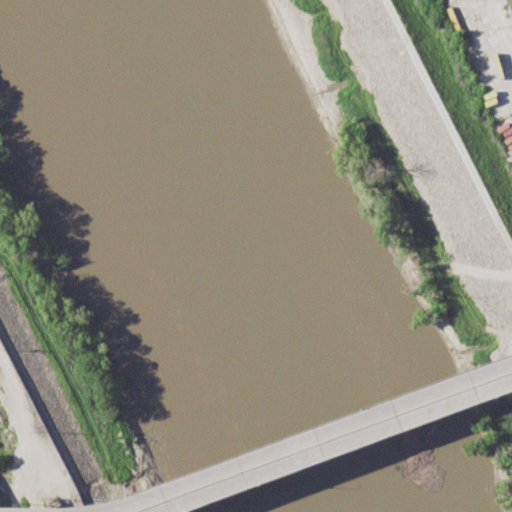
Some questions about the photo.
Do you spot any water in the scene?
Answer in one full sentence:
Yes, water shows up in the scene.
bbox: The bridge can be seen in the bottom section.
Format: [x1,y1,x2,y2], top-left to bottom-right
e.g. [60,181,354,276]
[0,356,512,512]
